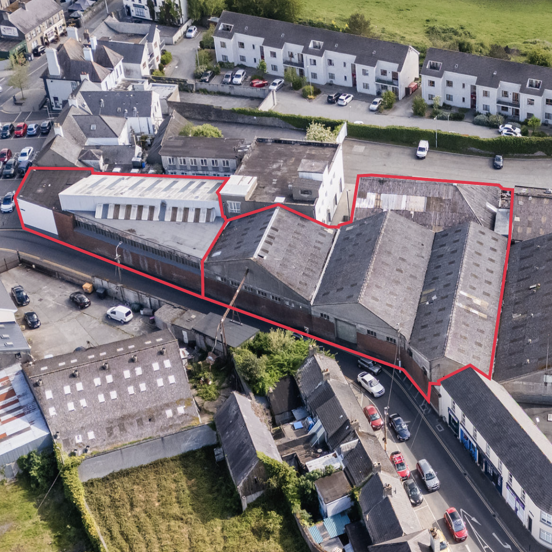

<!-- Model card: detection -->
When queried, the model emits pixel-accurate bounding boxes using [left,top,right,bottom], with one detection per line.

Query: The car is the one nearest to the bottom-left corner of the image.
[22,308,43,331]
